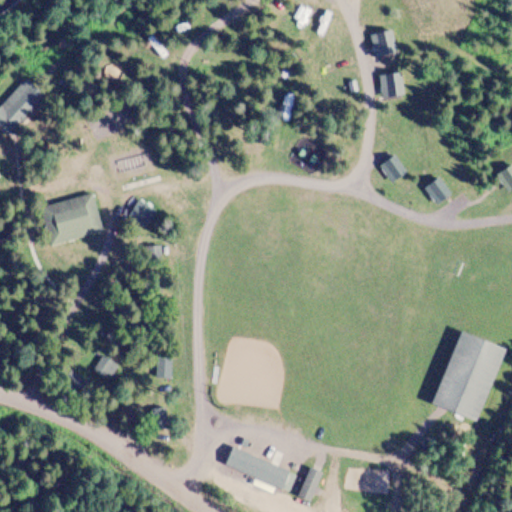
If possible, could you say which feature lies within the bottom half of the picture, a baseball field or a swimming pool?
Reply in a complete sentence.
There is a baseball field within the bottom half of the picture.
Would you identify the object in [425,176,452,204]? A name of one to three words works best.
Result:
building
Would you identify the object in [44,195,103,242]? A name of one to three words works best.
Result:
house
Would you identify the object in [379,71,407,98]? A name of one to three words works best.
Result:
building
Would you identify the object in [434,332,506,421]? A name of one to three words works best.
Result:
barn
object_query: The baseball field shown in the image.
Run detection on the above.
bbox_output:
[216,336,286,409]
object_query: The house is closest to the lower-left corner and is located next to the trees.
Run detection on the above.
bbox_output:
[94,354,120,378]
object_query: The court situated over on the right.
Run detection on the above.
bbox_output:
[344,468,388,493]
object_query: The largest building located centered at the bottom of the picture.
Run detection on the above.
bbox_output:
[228,448,296,492]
